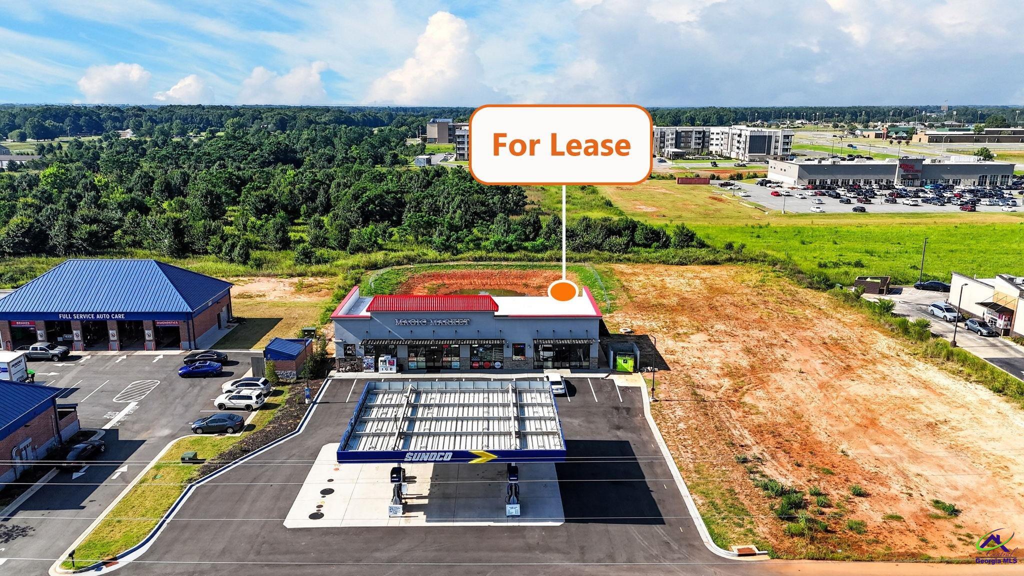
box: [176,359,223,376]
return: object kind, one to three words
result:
car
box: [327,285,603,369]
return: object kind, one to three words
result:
building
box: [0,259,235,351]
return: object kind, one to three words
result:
building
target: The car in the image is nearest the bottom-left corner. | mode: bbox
[46,438,111,471]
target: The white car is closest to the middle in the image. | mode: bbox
[544,374,565,395]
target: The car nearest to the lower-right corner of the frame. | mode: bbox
[959,316,1001,334]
